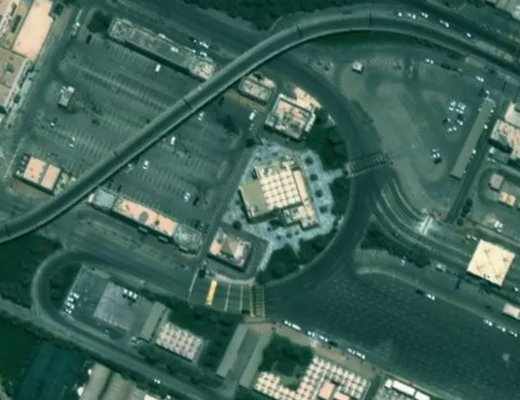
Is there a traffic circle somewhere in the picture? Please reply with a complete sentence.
No, there is no traffic circle in the image.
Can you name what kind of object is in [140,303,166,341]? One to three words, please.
shed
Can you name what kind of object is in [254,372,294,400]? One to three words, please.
building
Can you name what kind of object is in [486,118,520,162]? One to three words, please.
house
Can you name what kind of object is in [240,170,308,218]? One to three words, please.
building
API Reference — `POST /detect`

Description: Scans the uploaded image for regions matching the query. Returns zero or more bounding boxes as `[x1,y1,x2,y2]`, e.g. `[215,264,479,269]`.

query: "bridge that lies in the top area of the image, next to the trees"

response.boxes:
[0,13,520,242]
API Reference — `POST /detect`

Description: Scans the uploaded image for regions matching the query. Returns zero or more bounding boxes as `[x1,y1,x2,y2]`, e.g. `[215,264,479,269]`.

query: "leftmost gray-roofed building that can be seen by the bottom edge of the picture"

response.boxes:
[79,363,111,400]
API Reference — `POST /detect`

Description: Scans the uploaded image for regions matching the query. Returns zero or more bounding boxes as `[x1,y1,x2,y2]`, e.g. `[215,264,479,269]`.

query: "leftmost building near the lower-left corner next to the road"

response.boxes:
[19,343,81,400]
